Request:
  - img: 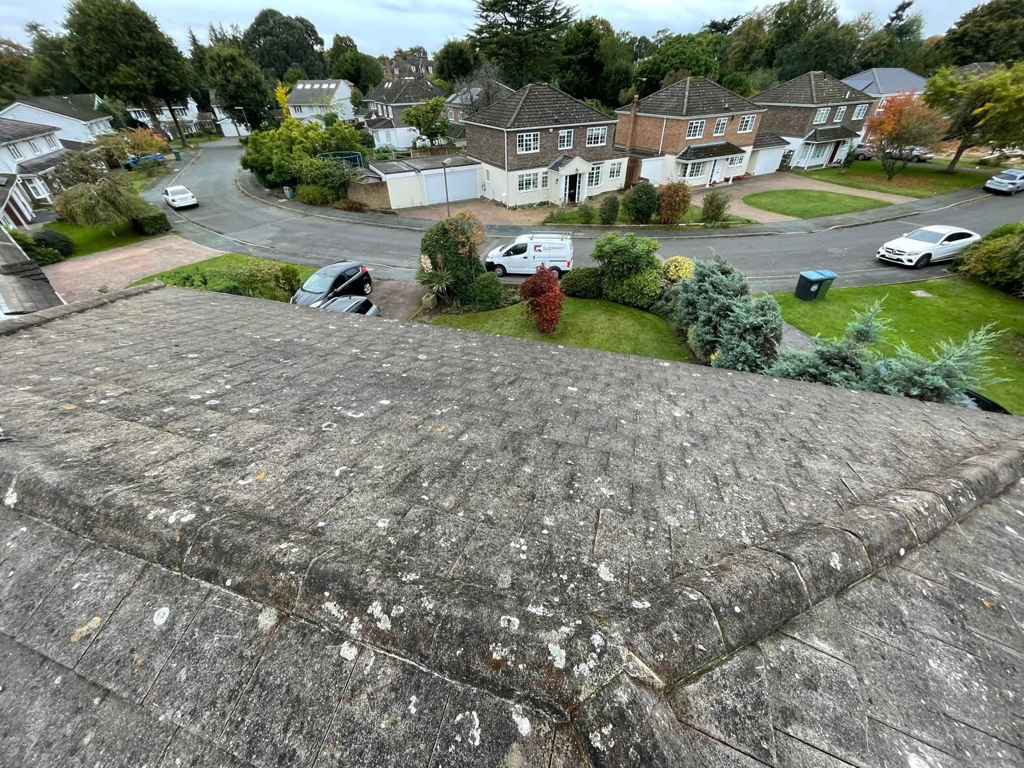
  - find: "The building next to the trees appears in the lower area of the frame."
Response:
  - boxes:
[0,280,1024,768]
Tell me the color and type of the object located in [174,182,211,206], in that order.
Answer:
white car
